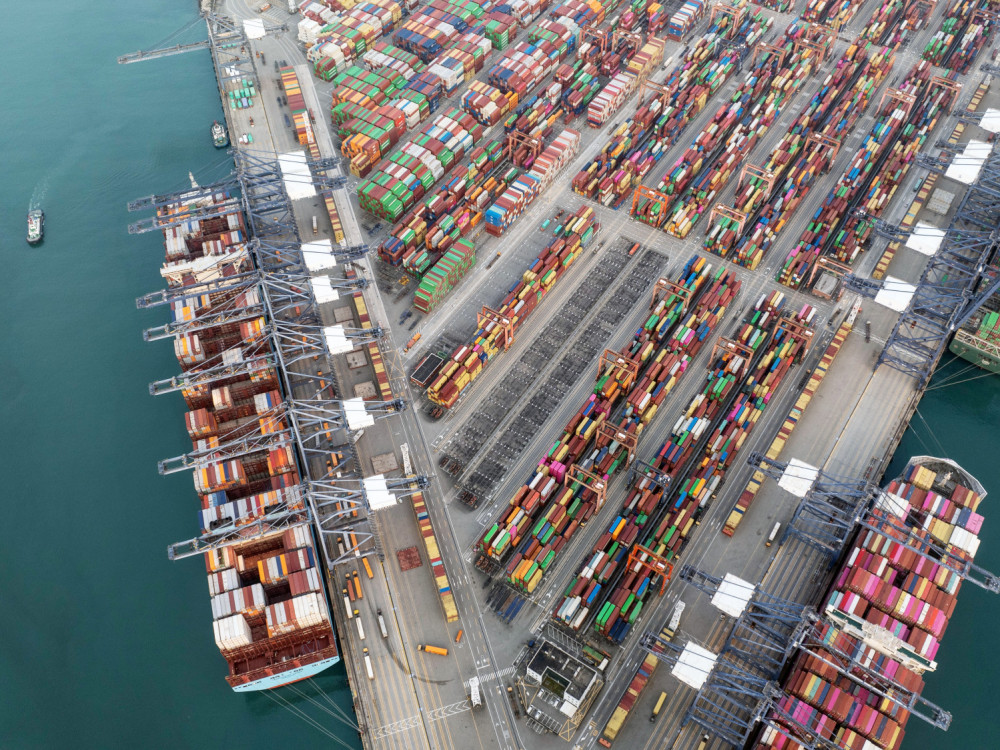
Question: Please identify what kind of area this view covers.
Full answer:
This looks like a port.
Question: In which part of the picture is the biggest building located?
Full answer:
The biggest building appears toward the bottom of the photo.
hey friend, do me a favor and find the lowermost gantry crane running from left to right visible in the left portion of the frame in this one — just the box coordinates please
[167,473,424,579]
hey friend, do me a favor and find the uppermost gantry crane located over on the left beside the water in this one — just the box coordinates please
[110,5,284,104]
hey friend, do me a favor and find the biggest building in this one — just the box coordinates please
[526,640,599,719]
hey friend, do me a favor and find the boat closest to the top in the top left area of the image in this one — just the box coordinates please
[212,122,228,151]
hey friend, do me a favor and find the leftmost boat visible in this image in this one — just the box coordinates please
[28,212,47,246]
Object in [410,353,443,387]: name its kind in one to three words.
shed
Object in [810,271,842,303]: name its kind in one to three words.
shed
